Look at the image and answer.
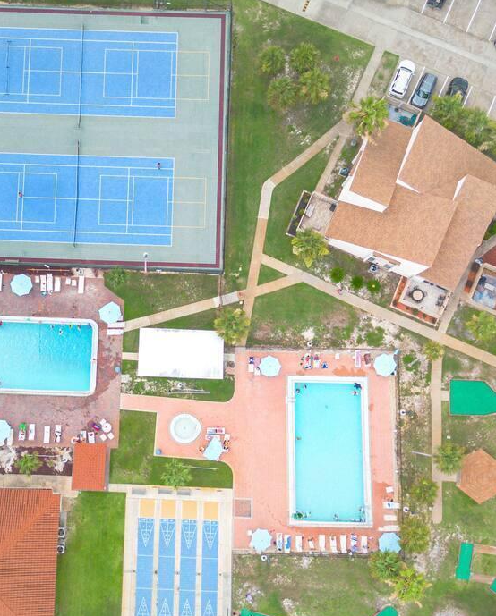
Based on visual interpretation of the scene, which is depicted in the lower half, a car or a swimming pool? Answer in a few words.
swimming pool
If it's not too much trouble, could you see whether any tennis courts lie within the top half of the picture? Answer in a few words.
Yes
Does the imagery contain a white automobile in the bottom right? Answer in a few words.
No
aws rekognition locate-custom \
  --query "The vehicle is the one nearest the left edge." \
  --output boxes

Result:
[387,59,415,100]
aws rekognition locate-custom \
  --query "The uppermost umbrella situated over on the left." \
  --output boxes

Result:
[10,274,33,295]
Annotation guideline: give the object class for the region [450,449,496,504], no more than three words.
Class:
gazebo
